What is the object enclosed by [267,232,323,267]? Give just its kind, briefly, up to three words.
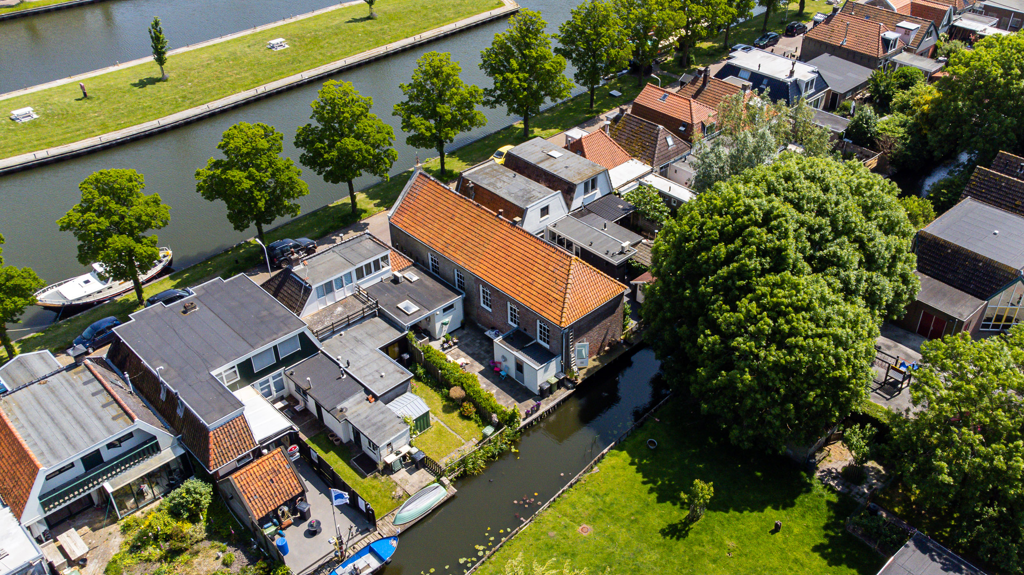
car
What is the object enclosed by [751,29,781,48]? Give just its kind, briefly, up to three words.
car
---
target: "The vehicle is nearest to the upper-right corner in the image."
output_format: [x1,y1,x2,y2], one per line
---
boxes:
[784,19,807,35]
